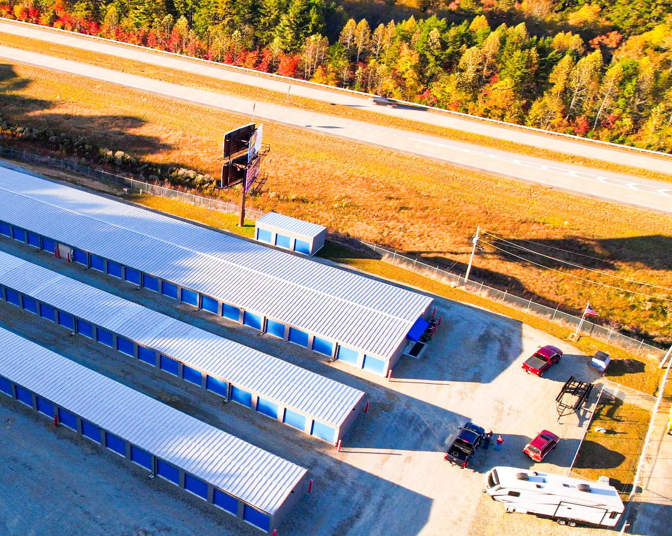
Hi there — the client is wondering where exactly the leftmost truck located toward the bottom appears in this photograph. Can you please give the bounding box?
[440,422,483,469]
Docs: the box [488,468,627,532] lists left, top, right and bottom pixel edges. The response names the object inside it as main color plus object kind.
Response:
white camper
